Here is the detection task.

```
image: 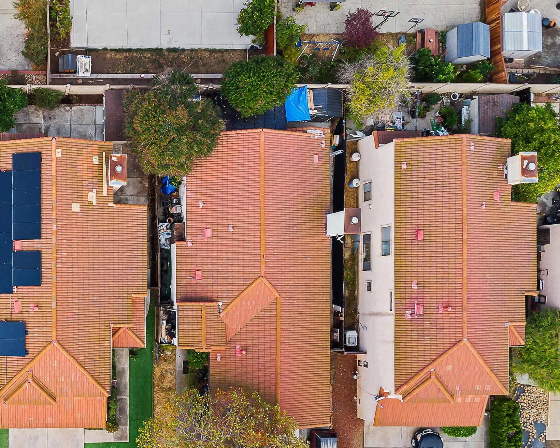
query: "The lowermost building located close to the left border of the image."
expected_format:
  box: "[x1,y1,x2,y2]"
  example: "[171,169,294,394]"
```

[0,132,148,430]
